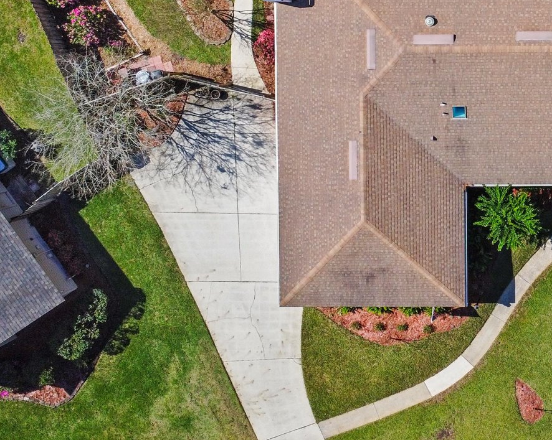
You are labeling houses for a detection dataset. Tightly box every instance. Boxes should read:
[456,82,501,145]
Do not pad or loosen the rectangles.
[254,0,552,325]
[0,186,77,344]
